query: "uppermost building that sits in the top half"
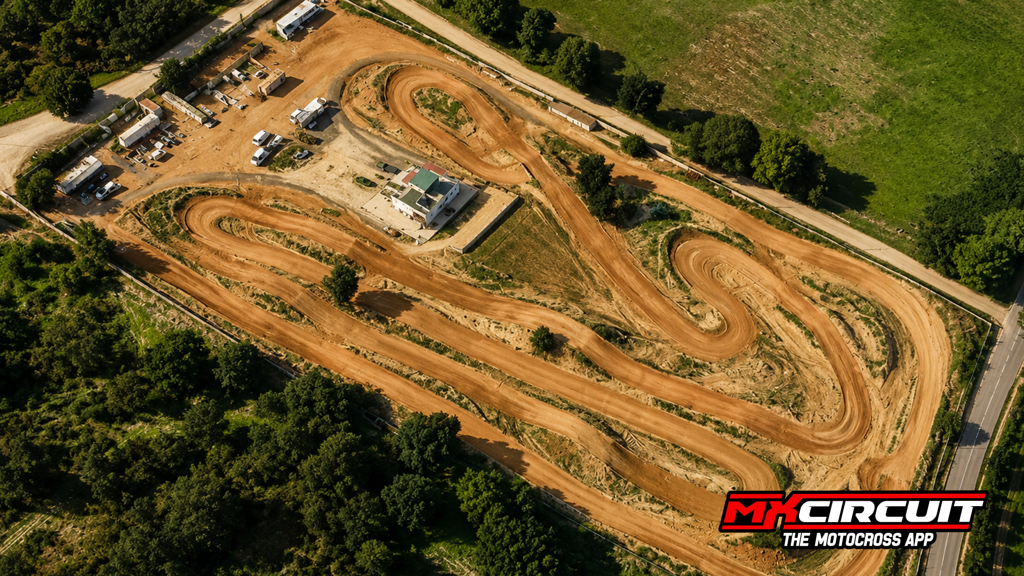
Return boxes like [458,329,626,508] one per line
[255,68,285,95]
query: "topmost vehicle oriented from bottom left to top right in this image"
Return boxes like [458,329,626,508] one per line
[271,0,326,37]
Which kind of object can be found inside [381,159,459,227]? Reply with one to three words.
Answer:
building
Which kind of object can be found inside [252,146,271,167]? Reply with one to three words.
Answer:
vehicle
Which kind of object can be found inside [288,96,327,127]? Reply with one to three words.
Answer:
truck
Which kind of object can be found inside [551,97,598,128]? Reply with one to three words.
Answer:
shed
